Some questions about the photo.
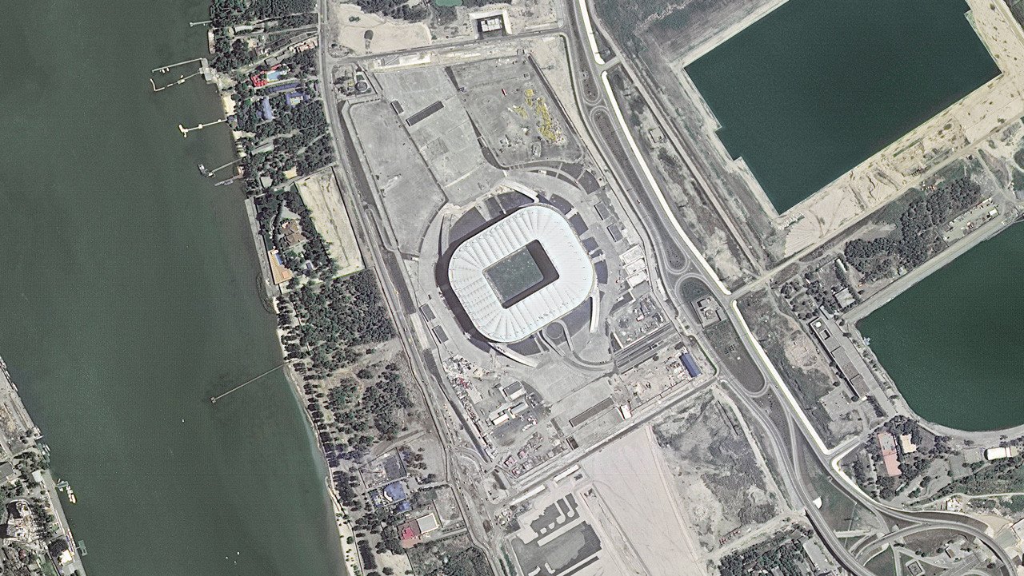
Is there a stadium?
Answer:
Yes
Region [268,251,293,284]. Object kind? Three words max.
house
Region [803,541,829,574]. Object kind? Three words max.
building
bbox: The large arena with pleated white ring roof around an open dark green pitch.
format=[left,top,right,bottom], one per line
[445,203,597,345]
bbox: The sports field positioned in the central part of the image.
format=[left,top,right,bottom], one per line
[487,243,556,305]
